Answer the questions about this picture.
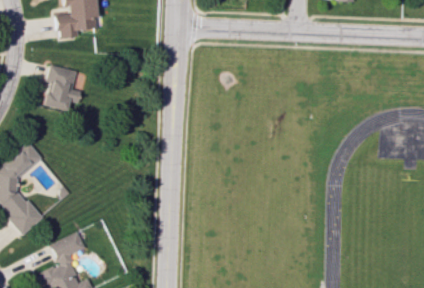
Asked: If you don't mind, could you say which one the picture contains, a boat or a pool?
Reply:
pool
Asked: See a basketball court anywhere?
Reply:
No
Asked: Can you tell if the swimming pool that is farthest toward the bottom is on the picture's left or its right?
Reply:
left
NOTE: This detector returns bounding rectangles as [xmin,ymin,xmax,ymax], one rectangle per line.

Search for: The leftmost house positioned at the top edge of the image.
[55,0,98,38]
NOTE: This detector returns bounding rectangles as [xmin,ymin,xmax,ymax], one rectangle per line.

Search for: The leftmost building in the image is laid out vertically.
[0,142,46,236]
